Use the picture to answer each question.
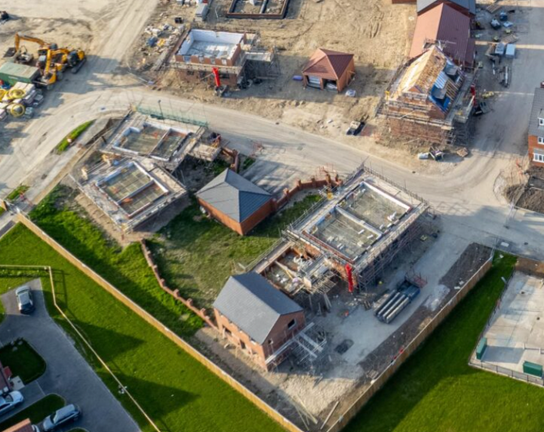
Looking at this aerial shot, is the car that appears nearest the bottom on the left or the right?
left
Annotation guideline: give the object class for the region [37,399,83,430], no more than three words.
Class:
car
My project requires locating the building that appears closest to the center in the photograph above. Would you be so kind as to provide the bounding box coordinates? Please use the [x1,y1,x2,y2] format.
[196,169,274,233]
